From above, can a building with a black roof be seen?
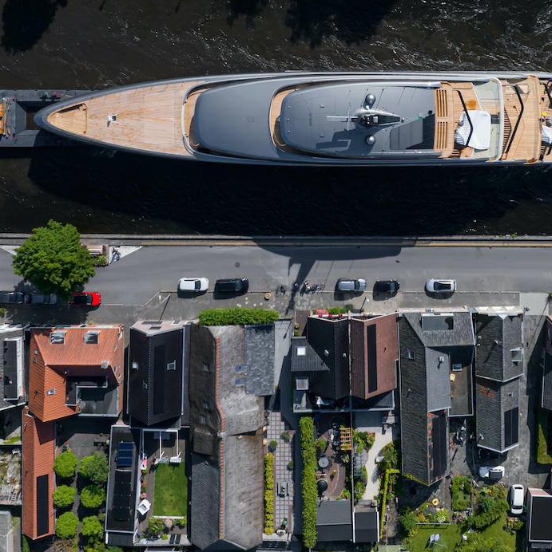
Yes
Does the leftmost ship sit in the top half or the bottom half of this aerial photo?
top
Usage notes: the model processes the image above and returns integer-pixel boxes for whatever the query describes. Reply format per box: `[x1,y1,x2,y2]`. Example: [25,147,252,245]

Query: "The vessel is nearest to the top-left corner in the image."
[0,90,97,146]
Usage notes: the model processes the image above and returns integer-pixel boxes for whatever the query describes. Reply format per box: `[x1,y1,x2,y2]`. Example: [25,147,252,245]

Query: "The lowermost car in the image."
[510,483,524,513]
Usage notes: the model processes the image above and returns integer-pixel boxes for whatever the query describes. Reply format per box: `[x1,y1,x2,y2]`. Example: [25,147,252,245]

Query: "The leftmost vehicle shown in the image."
[0,290,25,305]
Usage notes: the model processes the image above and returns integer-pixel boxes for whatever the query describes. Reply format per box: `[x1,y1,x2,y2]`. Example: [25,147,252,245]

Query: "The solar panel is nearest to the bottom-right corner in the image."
[505,407,518,448]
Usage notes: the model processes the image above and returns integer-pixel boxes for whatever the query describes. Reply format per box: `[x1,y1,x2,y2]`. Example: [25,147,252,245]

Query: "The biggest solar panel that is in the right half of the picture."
[433,416,447,478]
